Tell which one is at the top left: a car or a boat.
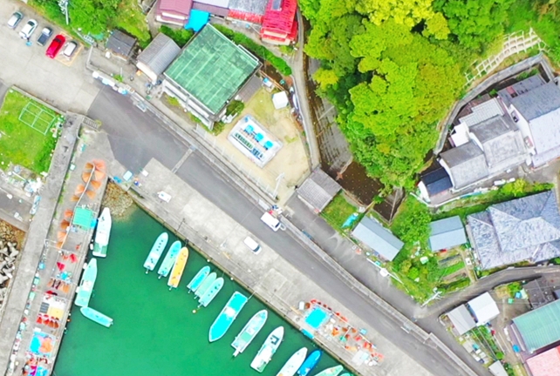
car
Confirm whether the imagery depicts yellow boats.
Yes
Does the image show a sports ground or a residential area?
residential area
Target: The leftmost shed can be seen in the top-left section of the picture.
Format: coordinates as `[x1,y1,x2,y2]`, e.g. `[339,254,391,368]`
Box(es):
[104,28,138,65]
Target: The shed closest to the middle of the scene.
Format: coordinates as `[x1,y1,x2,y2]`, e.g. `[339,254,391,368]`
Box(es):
[295,167,343,215]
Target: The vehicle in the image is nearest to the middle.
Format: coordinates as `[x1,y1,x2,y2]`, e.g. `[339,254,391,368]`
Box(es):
[259,209,282,233]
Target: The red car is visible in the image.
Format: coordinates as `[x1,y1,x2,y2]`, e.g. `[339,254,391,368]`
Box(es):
[45,34,68,61]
